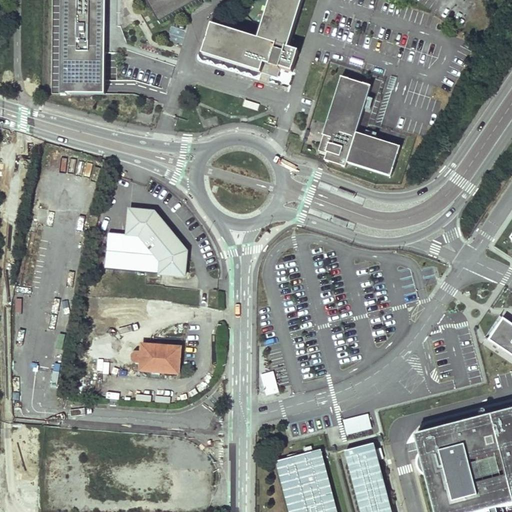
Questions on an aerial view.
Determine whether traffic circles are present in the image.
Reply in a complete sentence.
Yes, there is a traffic circle in the image.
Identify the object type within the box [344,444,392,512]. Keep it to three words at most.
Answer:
shed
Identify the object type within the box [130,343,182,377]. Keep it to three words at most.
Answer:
house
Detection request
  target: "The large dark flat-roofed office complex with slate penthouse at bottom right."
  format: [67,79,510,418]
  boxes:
[407,408,512,512]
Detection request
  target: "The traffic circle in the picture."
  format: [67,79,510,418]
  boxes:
[189,131,291,230]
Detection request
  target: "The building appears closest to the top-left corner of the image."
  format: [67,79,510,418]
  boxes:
[52,0,106,95]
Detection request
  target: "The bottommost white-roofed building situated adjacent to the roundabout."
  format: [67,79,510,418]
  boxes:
[104,207,189,278]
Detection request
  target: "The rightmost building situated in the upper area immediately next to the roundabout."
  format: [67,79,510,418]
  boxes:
[319,76,400,179]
